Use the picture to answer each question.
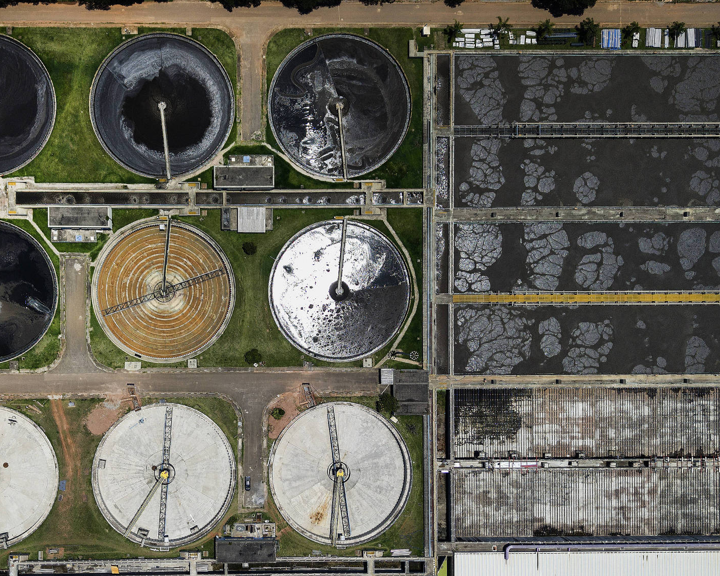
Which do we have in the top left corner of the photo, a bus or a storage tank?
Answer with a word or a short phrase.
storage tank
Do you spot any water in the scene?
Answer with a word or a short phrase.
Yes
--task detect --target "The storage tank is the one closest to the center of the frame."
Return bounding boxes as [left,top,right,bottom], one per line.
[268,216,411,363]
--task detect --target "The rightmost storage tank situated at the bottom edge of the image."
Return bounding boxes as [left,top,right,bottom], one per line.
[268,402,412,550]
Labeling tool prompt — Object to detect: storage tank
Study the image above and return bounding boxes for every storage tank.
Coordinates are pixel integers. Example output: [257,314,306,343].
[268,32,412,181]
[91,216,236,364]
[0,221,58,363]
[92,403,236,555]
[0,33,56,176]
[89,32,235,181]
[268,402,412,550]
[268,216,411,363]
[0,405,58,553]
